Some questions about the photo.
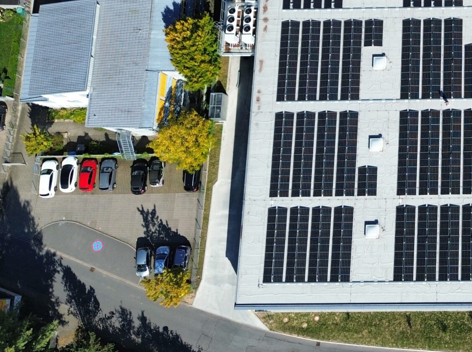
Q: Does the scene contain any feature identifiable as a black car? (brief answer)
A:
Yes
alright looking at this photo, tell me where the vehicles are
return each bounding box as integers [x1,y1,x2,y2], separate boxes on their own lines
[39,161,62,196]
[78,159,102,192]
[183,162,203,196]
[130,159,149,193]
[151,242,174,277]
[0,102,12,132]
[98,158,120,192]
[171,241,193,274]
[149,158,167,186]
[58,157,83,193]
[133,245,155,279]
